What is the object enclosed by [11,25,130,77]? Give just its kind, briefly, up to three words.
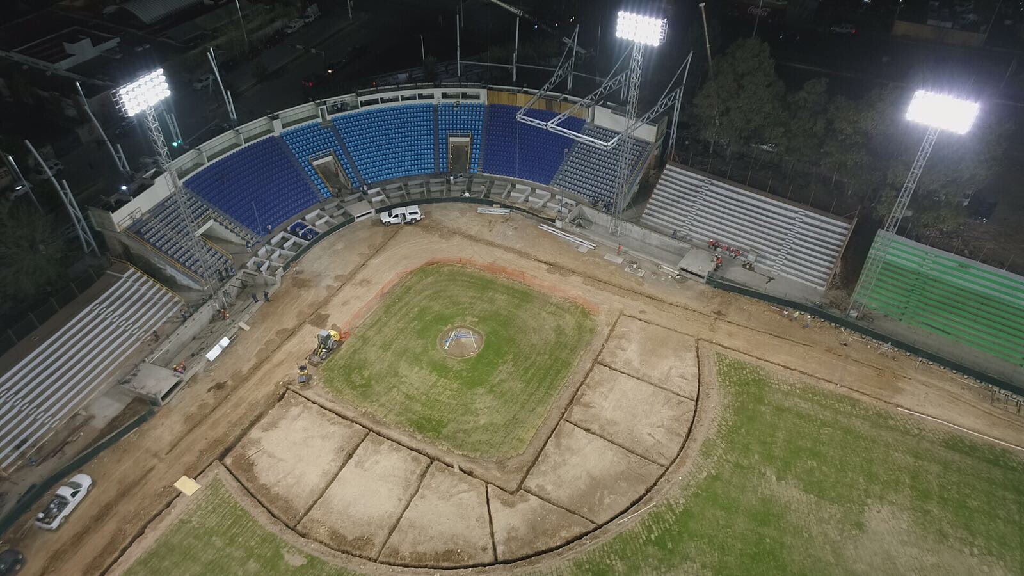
house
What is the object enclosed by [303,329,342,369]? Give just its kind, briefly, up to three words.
work vehicle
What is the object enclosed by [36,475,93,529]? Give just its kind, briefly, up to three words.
truck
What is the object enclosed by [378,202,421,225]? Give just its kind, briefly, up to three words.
truck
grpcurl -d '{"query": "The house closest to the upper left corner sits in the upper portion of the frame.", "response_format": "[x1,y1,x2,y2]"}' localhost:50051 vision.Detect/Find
[0,1,61,45]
